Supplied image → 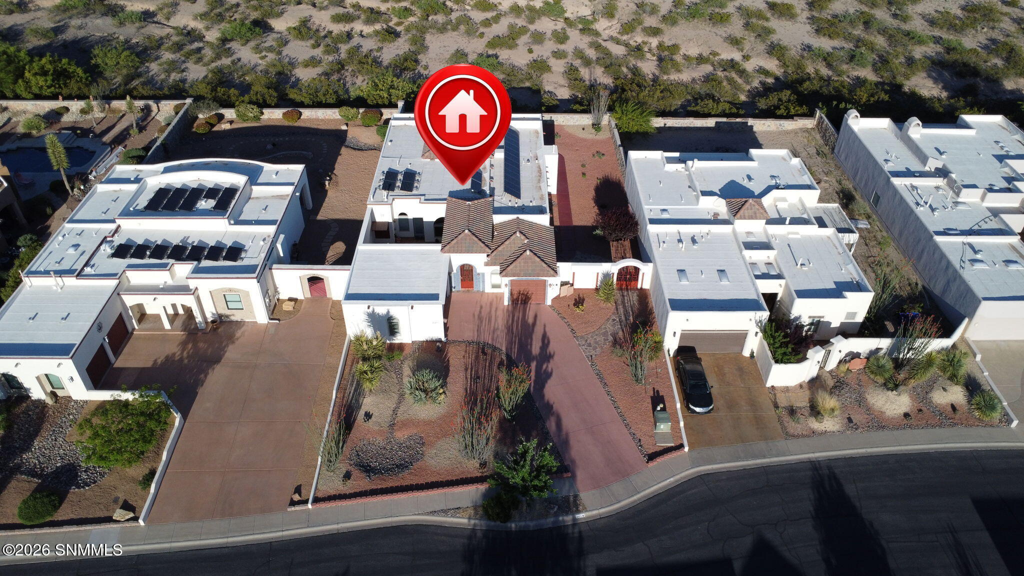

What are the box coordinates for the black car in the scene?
[678,352,714,404]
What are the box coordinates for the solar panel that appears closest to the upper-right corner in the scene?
[503,124,521,200]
